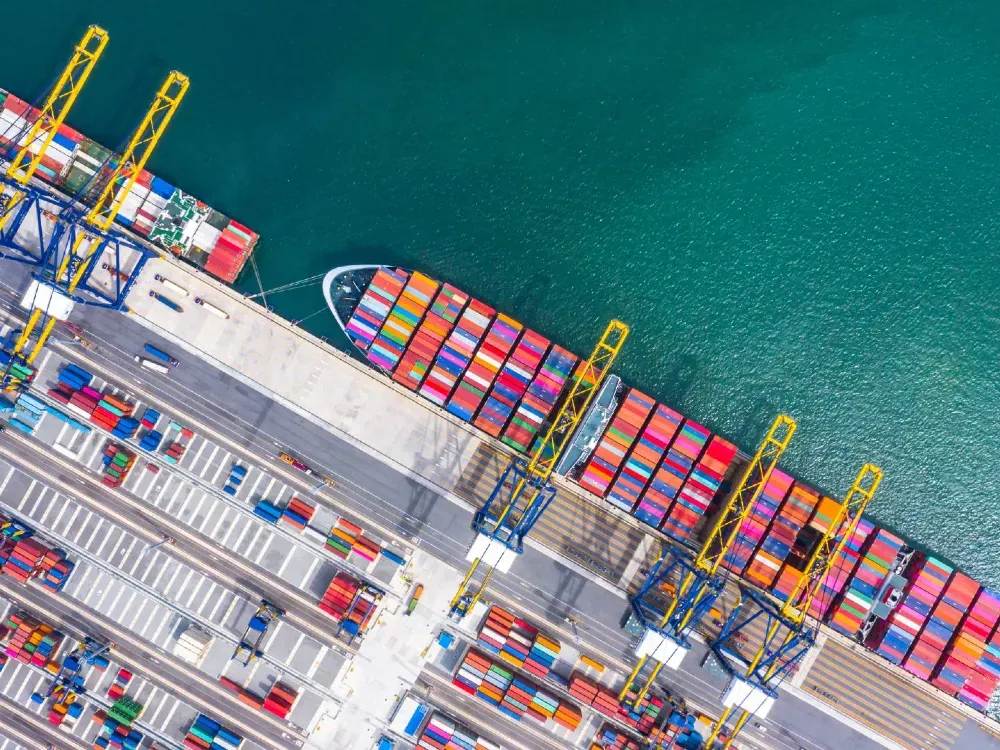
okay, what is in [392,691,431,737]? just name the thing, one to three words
building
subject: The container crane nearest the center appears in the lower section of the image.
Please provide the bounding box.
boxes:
[449,320,627,618]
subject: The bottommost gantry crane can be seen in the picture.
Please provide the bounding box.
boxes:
[647,688,697,750]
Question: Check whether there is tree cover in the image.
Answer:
No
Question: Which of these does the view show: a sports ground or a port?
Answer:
port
